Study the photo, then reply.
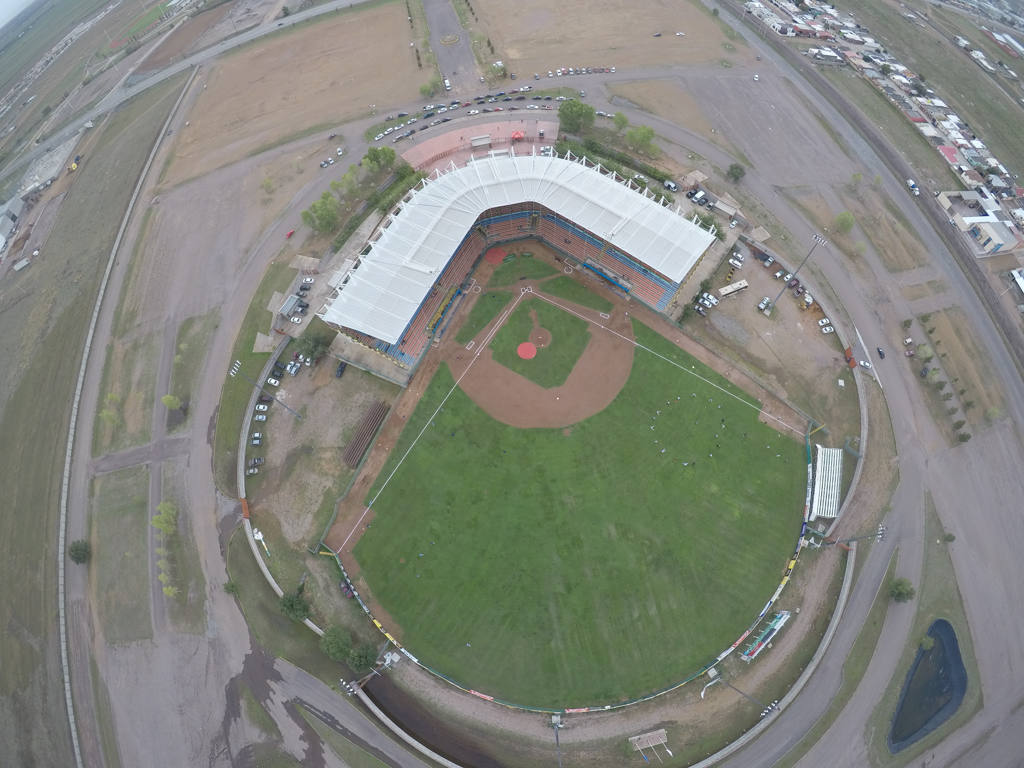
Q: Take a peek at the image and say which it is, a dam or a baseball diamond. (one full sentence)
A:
There is a baseball diamond in the scene.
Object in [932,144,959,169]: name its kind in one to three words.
house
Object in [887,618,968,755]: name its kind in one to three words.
pond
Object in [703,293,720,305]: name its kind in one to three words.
vehicle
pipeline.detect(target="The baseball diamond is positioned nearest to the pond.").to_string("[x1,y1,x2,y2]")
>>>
[321,240,809,709]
